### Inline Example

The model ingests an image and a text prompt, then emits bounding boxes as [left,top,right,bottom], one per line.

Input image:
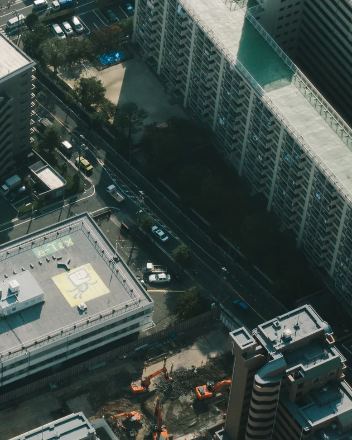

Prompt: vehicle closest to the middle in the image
[151,223,170,241]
